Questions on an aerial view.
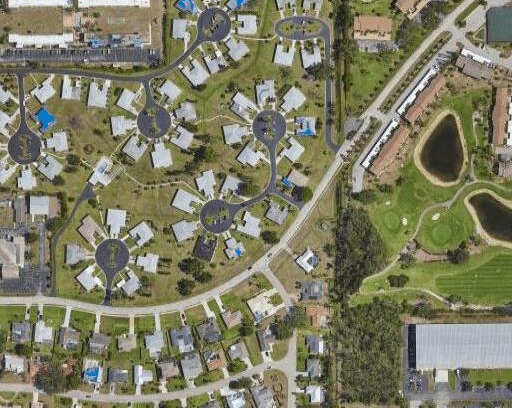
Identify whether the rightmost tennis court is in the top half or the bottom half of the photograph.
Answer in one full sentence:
Seen from above, the rightmost tennis court lies in the top half of the view.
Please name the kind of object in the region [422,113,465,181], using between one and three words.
pond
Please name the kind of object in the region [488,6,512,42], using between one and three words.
tennis court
